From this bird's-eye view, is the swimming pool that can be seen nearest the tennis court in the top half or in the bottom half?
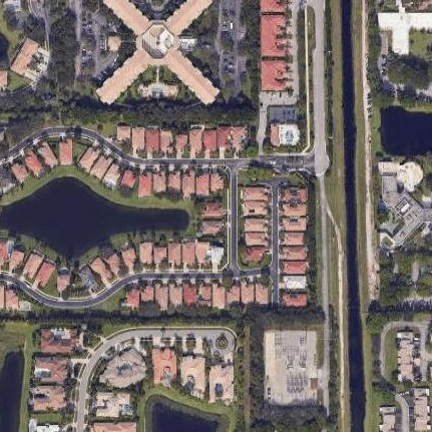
top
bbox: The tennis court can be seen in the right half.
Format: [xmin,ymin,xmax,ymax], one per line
[268,106,296,122]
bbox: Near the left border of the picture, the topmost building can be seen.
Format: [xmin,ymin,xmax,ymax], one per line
[9,37,40,75]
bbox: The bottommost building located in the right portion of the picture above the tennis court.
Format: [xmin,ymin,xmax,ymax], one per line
[261,60,285,90]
